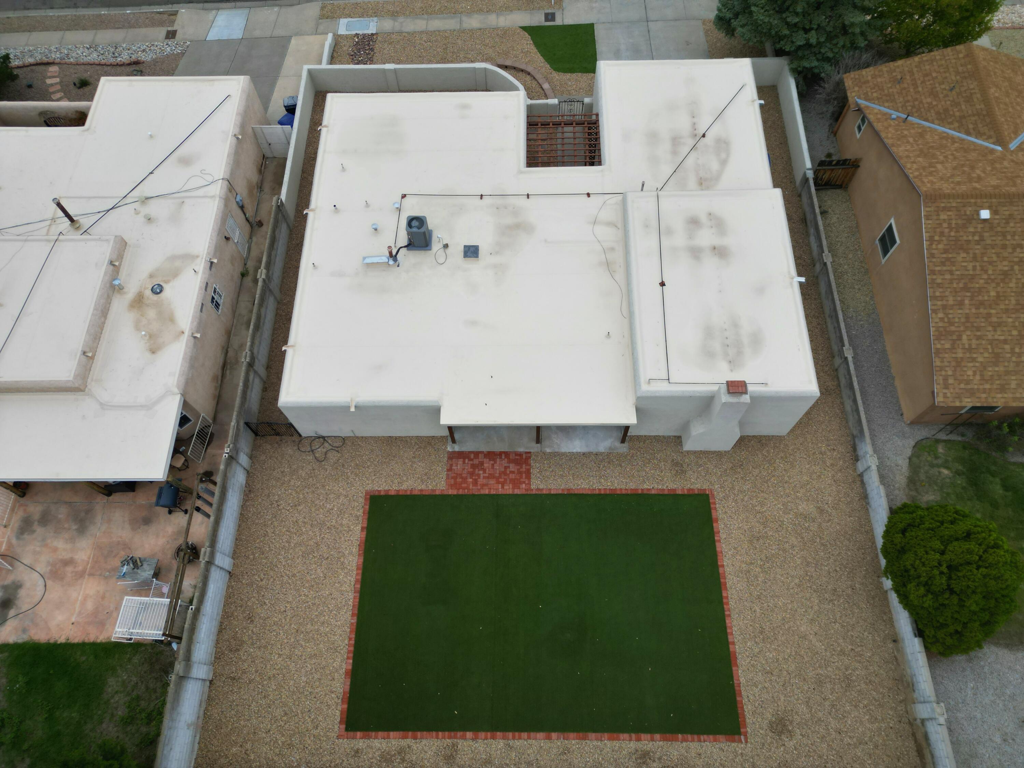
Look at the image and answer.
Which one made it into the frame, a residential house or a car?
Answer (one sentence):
The one in the frame is a residential house.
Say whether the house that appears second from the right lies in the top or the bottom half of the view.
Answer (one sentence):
It is in the top half that the house that appears second from the right appears.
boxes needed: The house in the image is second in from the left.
[278,58,820,450]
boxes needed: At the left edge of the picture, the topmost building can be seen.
[0,78,271,499]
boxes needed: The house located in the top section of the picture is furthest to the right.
[832,42,1024,425]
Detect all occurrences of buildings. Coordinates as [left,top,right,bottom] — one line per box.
[0,78,271,499]
[832,42,1024,425]
[278,58,820,450]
